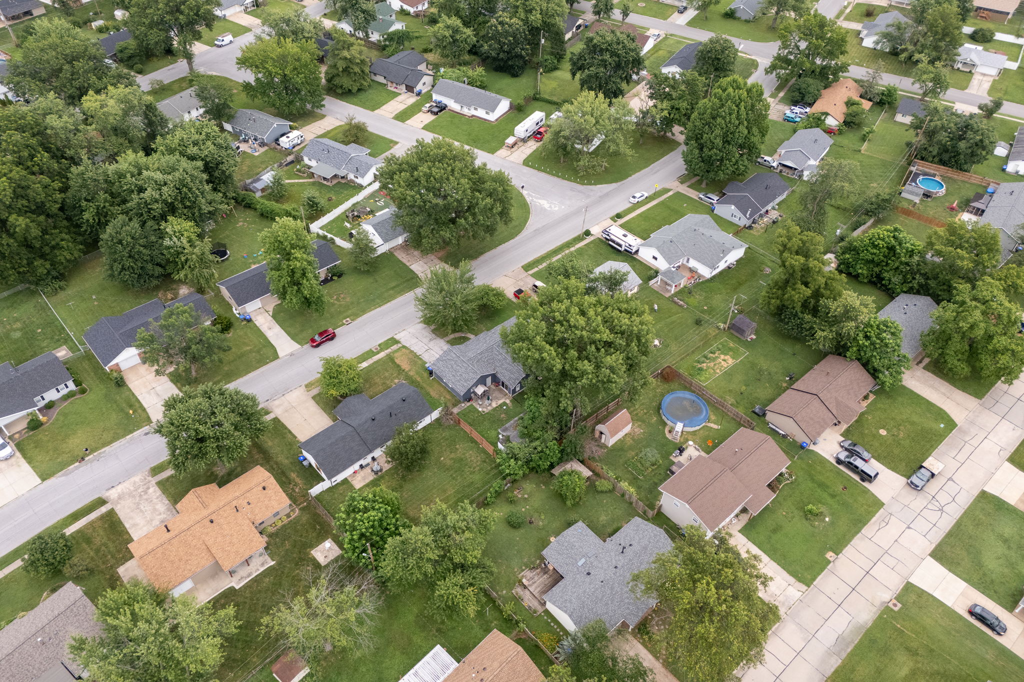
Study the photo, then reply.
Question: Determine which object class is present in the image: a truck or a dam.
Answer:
truck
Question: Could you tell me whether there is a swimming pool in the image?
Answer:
Yes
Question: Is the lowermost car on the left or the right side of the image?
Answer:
right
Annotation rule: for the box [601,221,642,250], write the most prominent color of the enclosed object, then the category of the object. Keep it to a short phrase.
white vehicle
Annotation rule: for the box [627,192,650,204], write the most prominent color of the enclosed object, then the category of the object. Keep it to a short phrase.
white vehicle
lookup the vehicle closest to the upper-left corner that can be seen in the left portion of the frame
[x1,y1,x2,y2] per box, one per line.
[213,32,235,46]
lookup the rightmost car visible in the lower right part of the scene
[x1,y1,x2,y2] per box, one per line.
[966,603,1009,637]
